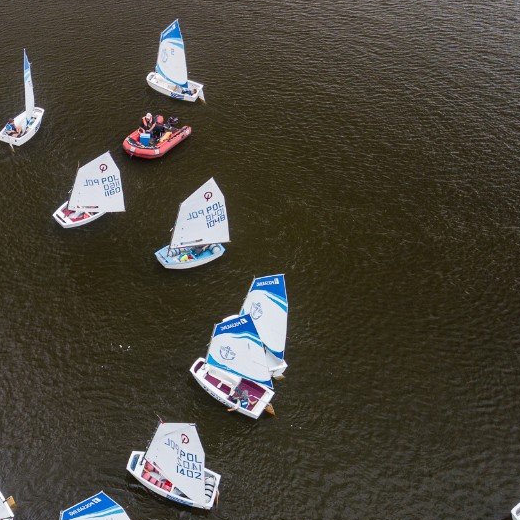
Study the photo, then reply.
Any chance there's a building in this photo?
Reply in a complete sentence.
No, there appears to be no building in this shot.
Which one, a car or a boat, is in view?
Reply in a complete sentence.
I can see a boat in this picture.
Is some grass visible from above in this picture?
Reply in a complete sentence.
No, grass can't be seen anywhere here.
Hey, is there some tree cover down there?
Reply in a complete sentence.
No, no tree cover is visible.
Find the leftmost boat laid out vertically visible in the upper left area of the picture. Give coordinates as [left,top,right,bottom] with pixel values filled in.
[0,48,45,151]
